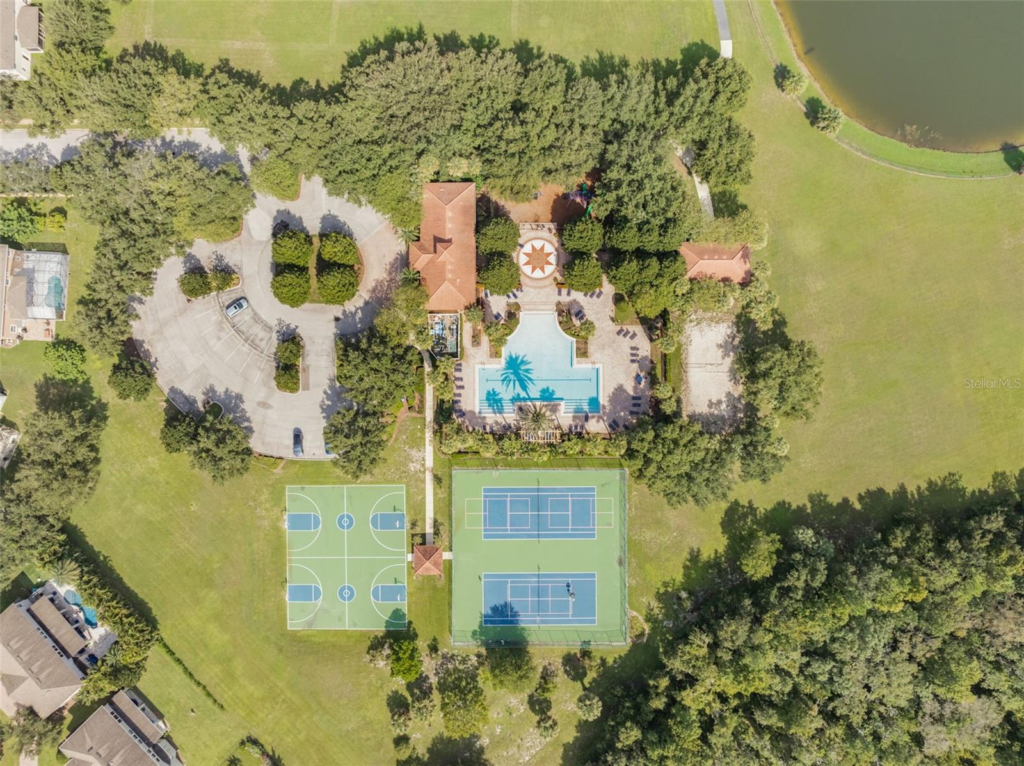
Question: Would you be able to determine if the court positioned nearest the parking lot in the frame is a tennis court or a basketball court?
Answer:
basketball court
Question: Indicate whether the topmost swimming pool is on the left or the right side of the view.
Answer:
left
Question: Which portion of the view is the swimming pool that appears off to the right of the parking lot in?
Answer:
center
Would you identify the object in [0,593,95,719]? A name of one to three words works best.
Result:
house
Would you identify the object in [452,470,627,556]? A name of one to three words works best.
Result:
tennis court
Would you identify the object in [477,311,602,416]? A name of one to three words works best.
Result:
swimming pool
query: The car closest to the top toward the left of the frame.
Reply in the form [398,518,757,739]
[269,217,290,237]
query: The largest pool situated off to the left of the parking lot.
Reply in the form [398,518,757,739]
[43,274,65,308]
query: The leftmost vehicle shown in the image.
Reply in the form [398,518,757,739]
[224,298,247,316]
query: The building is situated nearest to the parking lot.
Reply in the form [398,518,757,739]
[409,182,476,311]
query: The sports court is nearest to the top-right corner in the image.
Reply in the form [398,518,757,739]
[681,310,745,429]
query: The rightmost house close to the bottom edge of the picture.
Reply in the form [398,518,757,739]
[60,690,188,766]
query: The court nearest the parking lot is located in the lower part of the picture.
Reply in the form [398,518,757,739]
[287,485,406,558]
